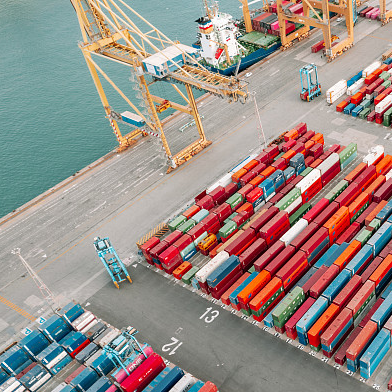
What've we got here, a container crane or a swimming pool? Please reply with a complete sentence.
The image shows a container crane.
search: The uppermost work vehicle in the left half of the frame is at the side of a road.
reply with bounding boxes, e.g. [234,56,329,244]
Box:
[92,238,127,290]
